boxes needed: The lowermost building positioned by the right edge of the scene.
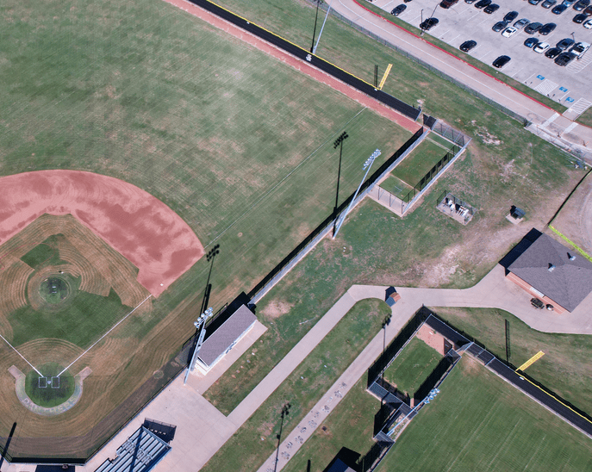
[505,234,592,316]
